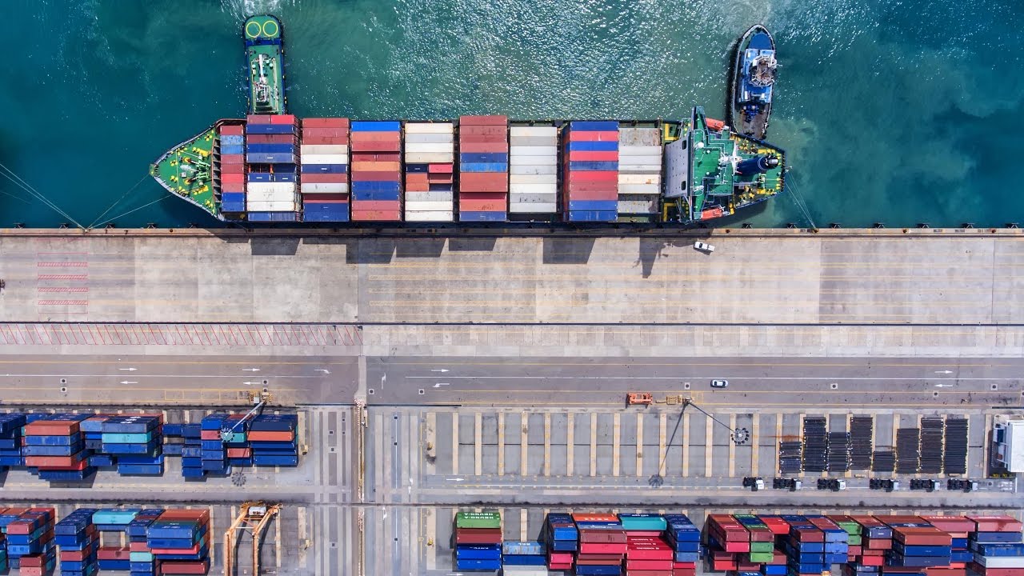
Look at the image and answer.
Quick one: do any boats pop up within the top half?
Yes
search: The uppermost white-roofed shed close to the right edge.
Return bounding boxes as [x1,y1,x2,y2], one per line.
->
[986,421,1024,473]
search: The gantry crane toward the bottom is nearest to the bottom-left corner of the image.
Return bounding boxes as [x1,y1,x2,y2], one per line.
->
[223,501,283,576]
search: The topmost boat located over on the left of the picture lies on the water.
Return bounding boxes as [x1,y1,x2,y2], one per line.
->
[242,12,287,115]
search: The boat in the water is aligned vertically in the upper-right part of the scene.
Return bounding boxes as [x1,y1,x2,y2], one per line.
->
[728,24,777,142]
